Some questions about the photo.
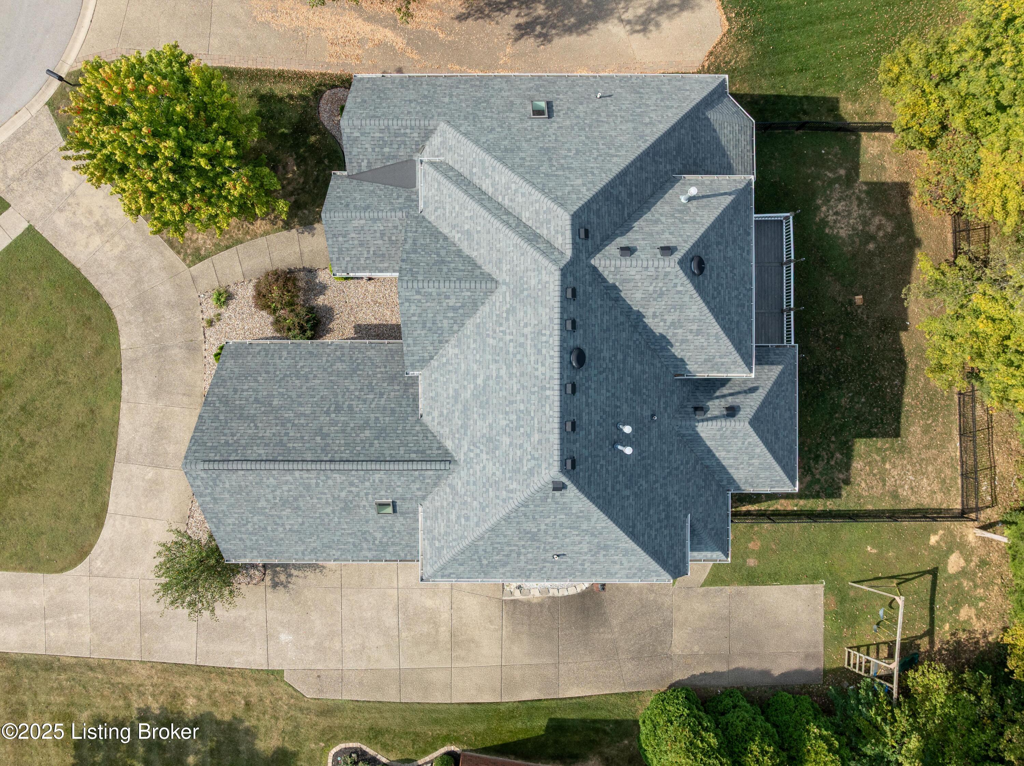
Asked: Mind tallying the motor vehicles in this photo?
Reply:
0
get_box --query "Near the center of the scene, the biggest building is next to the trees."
[181,75,798,583]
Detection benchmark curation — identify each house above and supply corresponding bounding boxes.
[459,751,561,766]
[181,75,798,583]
